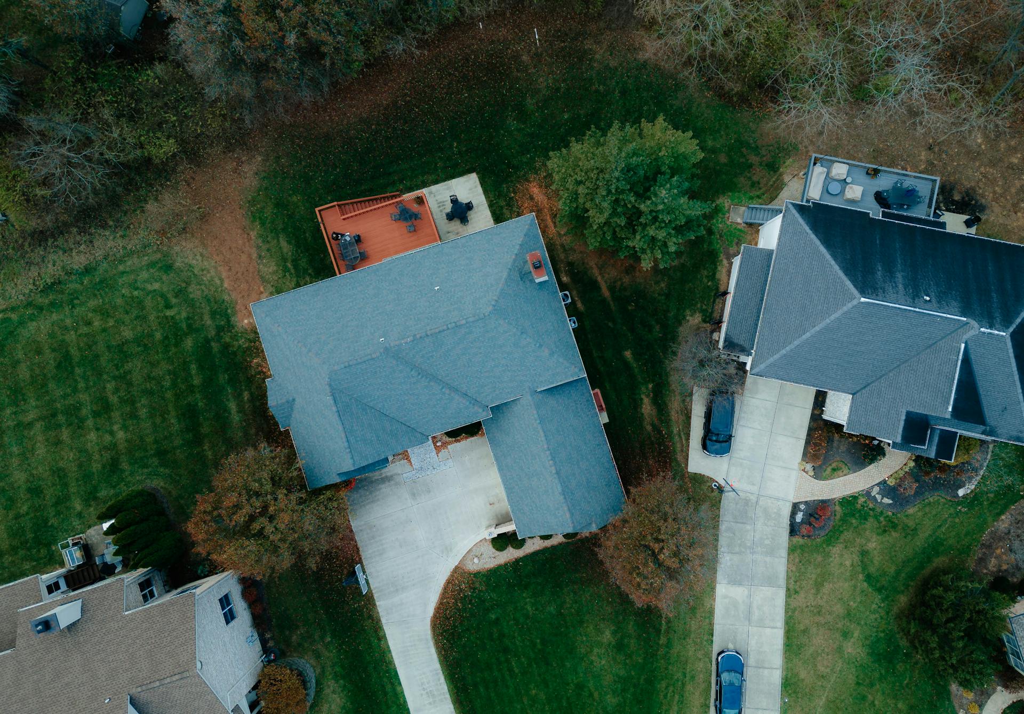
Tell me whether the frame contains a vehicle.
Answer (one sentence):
Yes, a vehicle appears in the view.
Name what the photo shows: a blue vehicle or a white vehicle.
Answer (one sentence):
The image shows a blue vehicle.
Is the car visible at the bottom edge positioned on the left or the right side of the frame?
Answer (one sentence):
You can find the car visible at the bottom edge on the right side of the picture.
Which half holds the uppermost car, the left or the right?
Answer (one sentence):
The uppermost car sits on the right side.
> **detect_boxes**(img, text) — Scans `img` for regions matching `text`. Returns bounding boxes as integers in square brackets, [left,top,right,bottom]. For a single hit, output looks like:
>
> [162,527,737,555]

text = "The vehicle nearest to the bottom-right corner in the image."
[711,653,746,714]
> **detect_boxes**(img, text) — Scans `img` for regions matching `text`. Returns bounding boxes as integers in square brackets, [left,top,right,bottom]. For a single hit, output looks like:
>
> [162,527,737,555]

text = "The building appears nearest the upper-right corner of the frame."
[711,198,1024,463]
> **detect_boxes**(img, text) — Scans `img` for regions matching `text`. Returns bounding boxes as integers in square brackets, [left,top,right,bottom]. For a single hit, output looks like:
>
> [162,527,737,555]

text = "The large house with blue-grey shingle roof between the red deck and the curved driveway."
[248,211,629,540]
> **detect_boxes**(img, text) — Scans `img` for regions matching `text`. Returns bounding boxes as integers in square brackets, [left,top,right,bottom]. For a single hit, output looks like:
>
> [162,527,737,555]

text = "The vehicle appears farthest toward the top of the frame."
[699,387,737,462]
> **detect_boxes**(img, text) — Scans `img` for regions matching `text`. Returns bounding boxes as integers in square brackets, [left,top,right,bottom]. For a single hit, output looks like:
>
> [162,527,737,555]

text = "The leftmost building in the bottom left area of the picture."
[0,565,272,714]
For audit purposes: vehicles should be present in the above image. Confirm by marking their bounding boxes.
[711,653,746,714]
[699,387,737,462]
